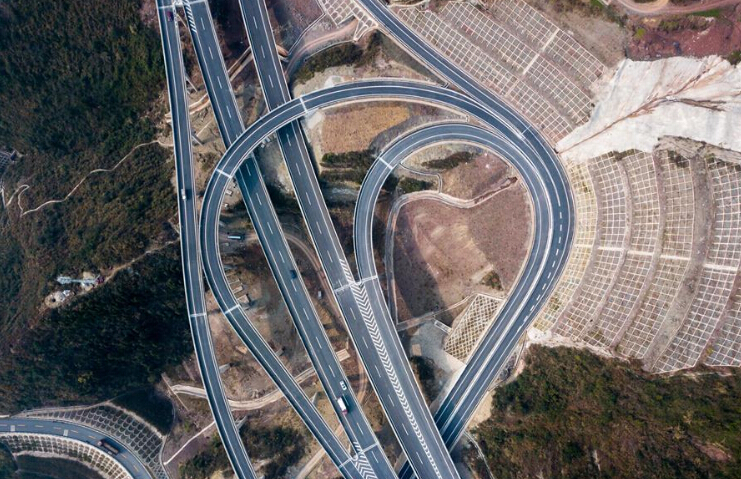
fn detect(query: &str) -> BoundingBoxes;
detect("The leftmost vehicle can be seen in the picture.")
[97,441,116,456]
